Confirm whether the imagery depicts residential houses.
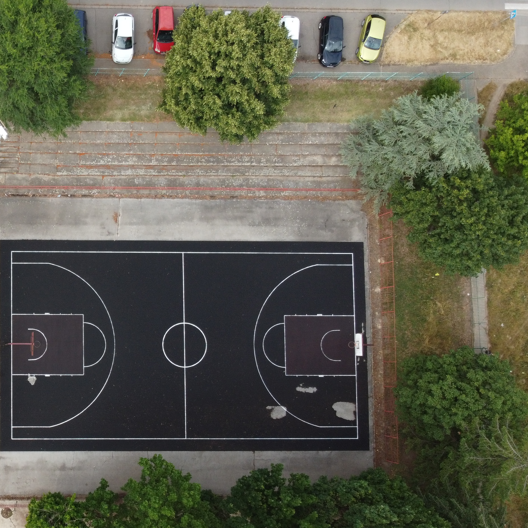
No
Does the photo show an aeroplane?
No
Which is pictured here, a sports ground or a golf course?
sports ground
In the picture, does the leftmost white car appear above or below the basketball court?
above it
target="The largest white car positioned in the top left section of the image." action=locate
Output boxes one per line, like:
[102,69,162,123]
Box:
[110,10,137,63]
